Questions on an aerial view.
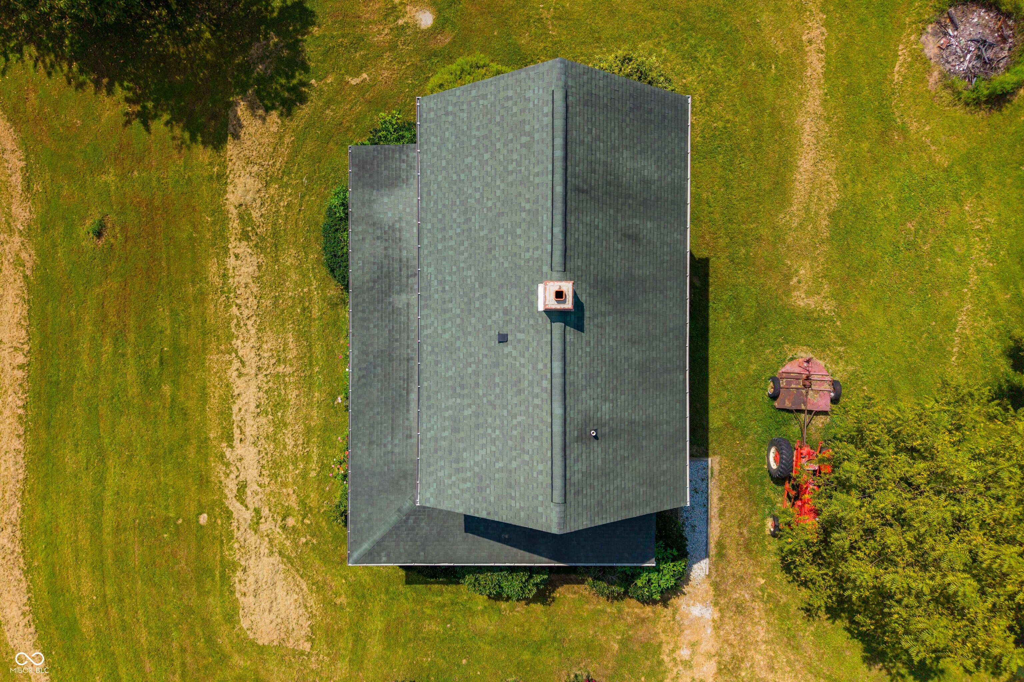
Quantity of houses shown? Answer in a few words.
1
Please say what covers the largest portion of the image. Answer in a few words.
grass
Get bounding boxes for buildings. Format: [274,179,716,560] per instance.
[348,57,692,566]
